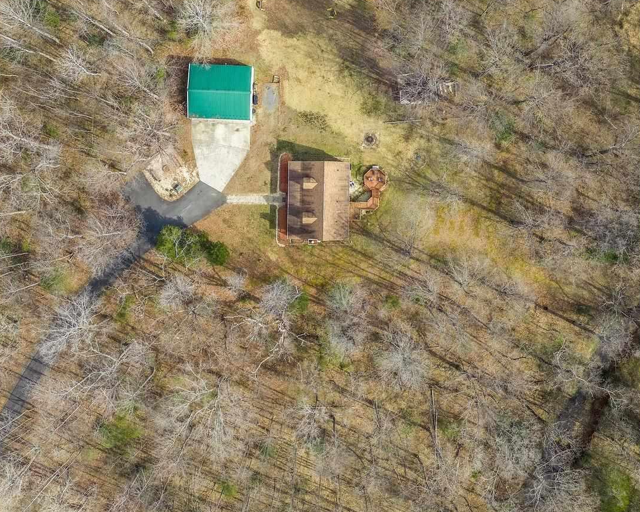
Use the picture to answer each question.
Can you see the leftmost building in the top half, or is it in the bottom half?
top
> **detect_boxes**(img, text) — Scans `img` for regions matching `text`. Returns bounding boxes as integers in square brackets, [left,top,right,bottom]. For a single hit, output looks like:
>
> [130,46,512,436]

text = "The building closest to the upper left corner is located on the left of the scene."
[186,62,255,121]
